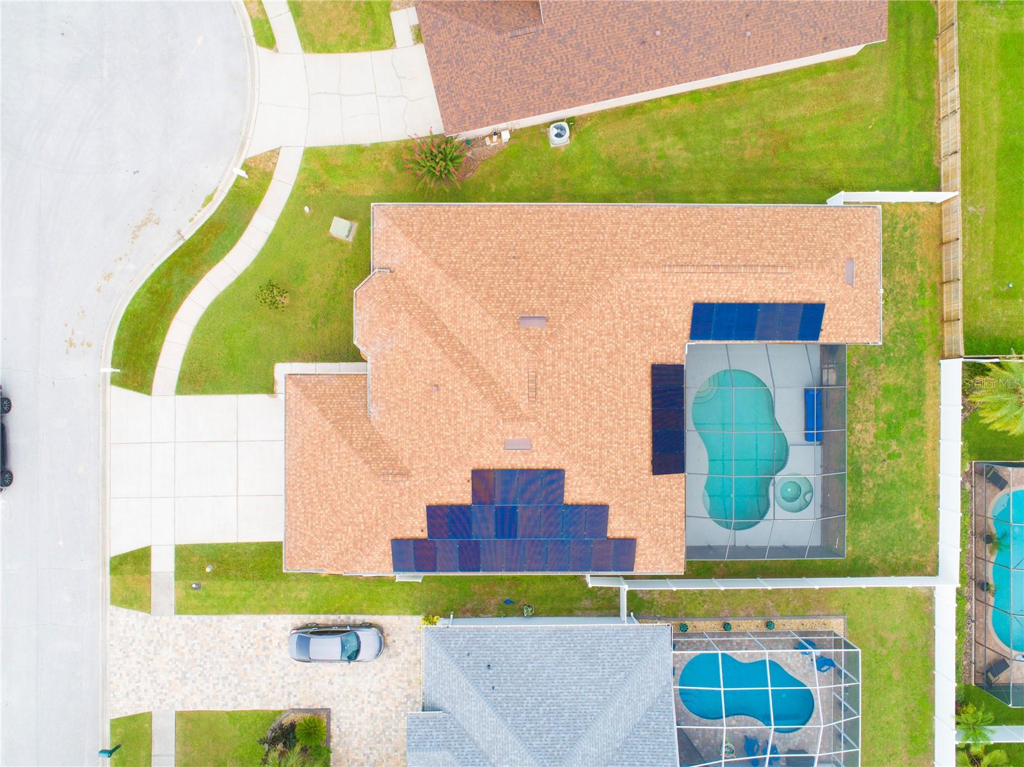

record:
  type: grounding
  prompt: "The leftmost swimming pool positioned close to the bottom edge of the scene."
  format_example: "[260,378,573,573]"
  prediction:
[676,651,818,737]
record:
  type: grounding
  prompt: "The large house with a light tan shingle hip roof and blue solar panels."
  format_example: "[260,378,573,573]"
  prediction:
[282,202,884,576]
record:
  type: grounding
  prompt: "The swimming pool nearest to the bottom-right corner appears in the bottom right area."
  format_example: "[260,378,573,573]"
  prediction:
[987,483,1024,656]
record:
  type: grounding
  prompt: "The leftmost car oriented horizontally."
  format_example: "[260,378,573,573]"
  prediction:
[288,624,384,669]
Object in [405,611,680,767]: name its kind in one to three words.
house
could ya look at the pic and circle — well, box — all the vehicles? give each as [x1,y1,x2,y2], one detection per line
[0,387,12,499]
[288,624,384,669]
